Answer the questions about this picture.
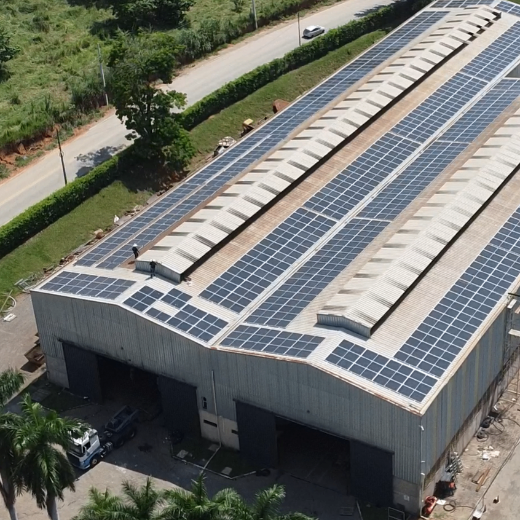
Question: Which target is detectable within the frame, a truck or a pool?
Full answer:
I can see a truck in this picture.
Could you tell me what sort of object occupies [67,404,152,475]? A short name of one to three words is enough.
truck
